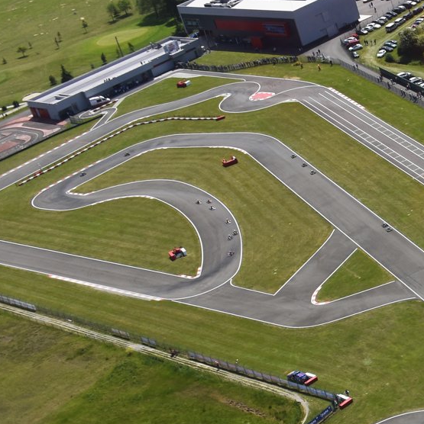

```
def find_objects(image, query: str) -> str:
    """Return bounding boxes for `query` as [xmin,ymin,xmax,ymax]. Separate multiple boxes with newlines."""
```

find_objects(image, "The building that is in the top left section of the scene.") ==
[26,36,198,119]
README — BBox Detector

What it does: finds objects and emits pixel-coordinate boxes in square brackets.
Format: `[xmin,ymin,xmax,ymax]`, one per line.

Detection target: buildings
[177,0,354,45]
[26,36,198,119]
